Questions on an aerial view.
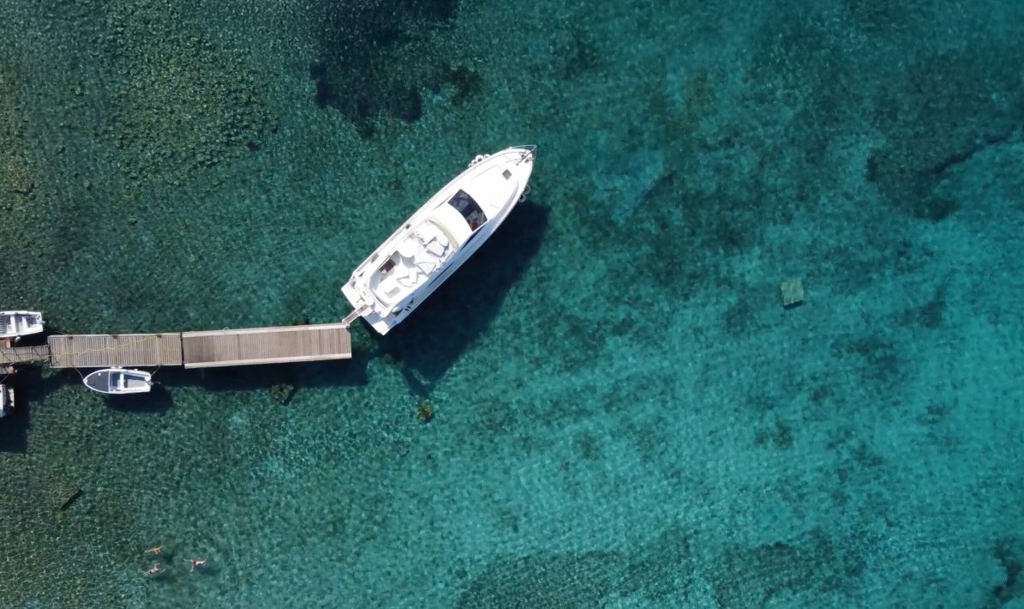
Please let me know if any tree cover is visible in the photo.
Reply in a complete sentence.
No, there's no tree cover in this view.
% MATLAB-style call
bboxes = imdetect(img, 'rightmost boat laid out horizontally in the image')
[82,368,158,394]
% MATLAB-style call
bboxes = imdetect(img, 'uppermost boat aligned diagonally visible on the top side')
[342,146,534,333]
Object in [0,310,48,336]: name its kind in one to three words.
boat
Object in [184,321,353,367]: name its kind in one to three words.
pier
